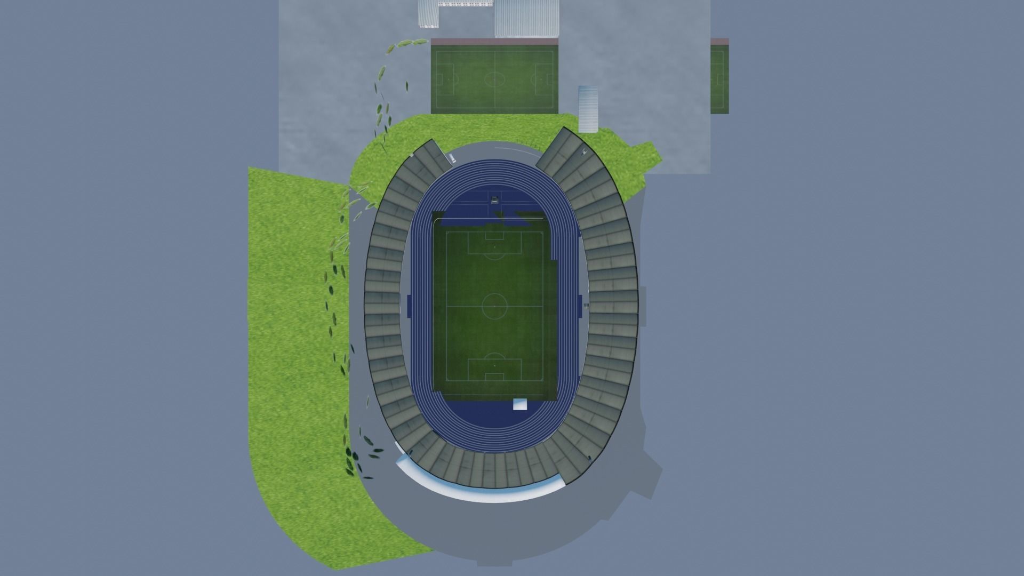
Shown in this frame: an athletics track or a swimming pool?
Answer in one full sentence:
Visible in the photo is an athletics track.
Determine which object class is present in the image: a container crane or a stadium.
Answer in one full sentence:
The one in the frame is a stadium.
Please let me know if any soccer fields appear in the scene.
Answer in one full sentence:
Yes, looking at the shot, I can spot a soccer field.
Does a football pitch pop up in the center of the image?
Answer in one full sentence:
Yes, looking in the center of the image, one can make out a football pitch.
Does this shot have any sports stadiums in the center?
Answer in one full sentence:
Yes, you'll find a sports stadium in the center.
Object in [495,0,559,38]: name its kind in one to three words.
building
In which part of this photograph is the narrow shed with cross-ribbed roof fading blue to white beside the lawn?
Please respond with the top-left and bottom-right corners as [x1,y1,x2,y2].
[579,86,598,133]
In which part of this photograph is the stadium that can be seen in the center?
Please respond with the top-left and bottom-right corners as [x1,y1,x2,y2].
[364,126,639,488]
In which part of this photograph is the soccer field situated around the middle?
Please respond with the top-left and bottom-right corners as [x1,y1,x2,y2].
[433,211,557,401]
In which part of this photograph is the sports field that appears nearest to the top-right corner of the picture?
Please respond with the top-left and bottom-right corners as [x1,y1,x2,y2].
[710,38,729,114]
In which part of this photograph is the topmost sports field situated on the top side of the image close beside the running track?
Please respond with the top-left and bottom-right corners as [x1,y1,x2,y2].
[431,38,558,114]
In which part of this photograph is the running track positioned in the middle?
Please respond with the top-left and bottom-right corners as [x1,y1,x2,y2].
[407,159,582,454]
